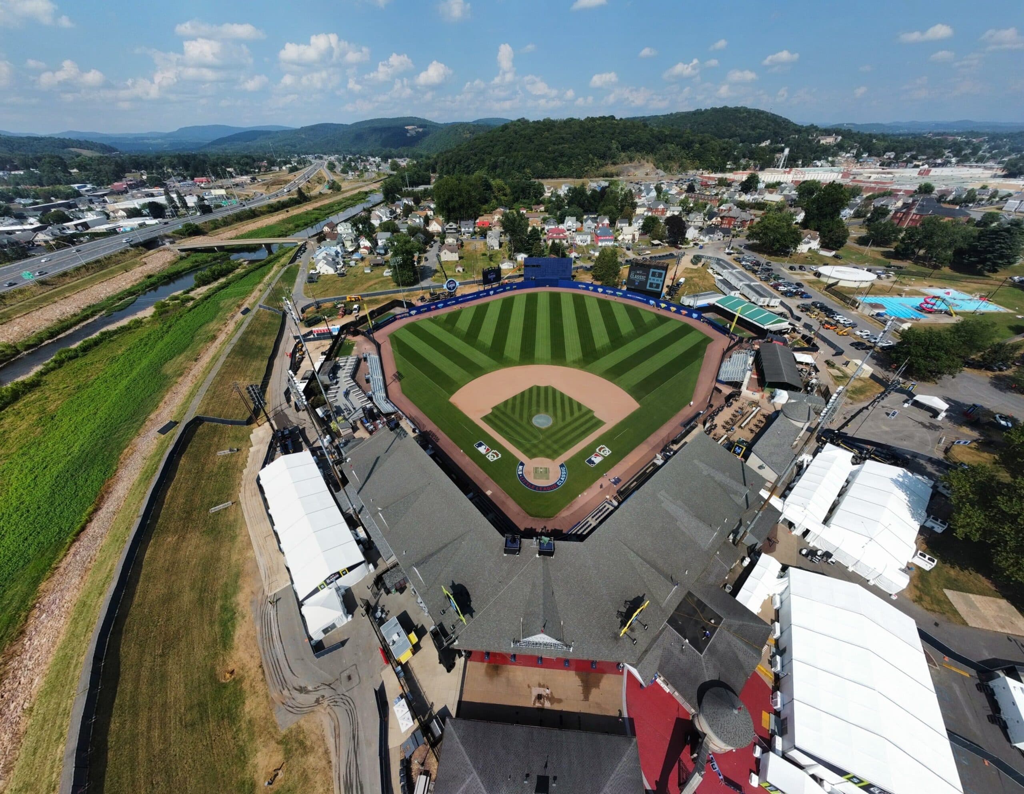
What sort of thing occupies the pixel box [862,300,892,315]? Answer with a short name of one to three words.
building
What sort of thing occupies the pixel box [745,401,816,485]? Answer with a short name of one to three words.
building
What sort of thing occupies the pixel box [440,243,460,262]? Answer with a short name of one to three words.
house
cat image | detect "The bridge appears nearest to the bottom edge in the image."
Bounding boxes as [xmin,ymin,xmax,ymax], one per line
[160,237,313,254]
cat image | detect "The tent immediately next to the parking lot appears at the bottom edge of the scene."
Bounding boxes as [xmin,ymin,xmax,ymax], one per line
[775,568,963,794]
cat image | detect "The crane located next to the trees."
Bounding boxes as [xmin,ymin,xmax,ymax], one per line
[818,379,901,467]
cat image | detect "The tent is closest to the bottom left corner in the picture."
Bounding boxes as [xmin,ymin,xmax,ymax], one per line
[301,588,352,649]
